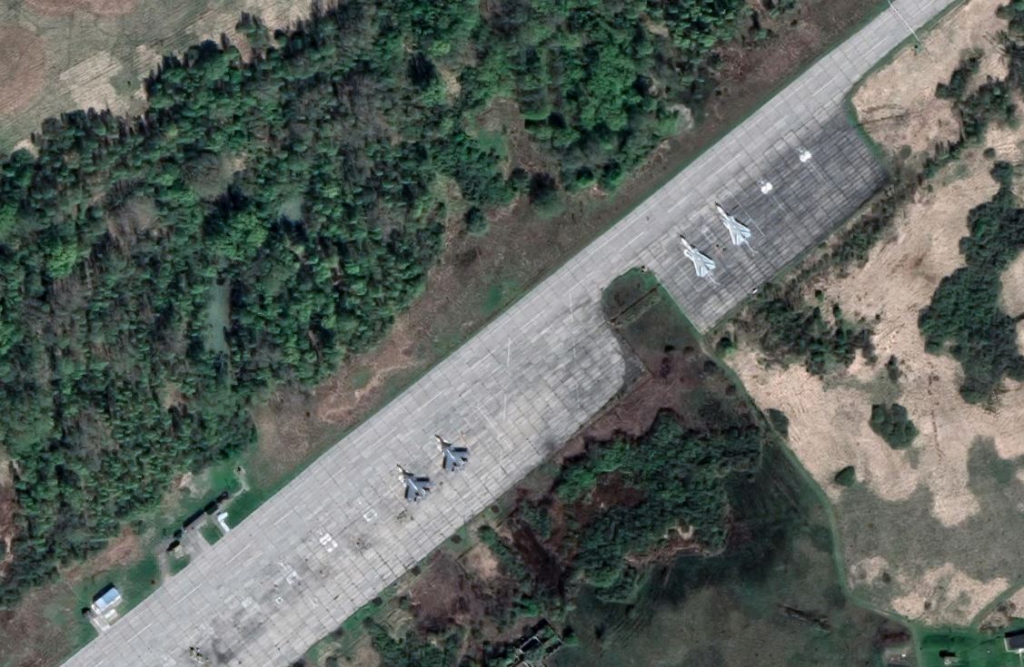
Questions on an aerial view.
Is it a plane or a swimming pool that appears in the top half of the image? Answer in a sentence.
Looking in the top half of the image, you will find a plane.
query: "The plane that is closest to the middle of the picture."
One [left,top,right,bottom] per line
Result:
[434,436,468,473]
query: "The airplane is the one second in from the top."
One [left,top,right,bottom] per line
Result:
[681,237,716,278]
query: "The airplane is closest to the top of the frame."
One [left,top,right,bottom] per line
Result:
[714,202,751,245]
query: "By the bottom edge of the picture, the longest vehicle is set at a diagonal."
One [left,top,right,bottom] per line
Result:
[189,647,204,663]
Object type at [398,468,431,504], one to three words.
airplane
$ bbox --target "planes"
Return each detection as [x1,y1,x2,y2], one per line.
[681,237,716,278]
[434,436,468,473]
[714,202,751,245]
[398,468,431,504]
